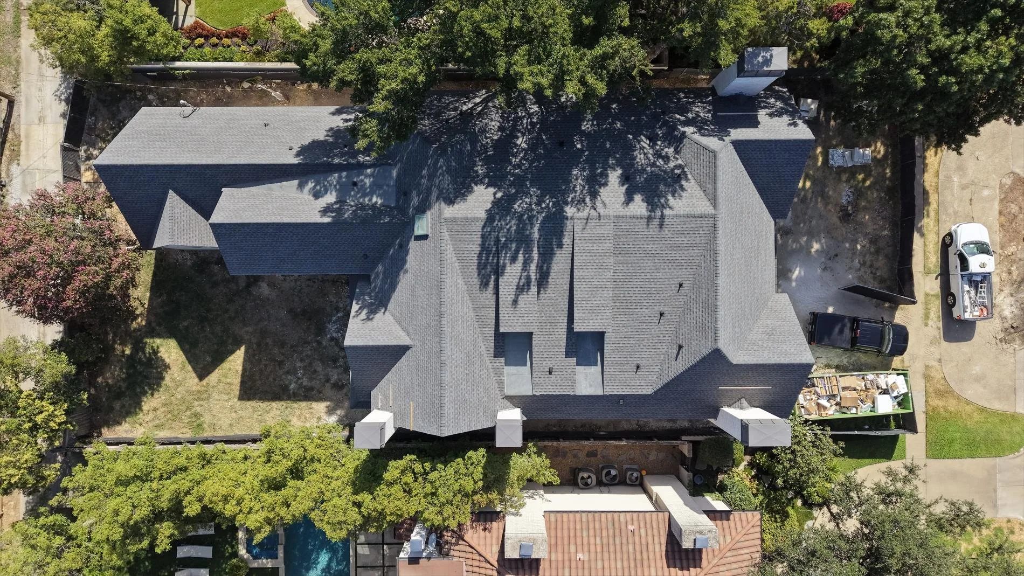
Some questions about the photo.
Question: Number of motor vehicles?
2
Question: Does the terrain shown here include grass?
Yes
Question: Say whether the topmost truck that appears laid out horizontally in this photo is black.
Yes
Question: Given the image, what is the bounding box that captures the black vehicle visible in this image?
[804,313,911,359]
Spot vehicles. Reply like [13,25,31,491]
[804,313,911,359]
[943,222,996,325]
